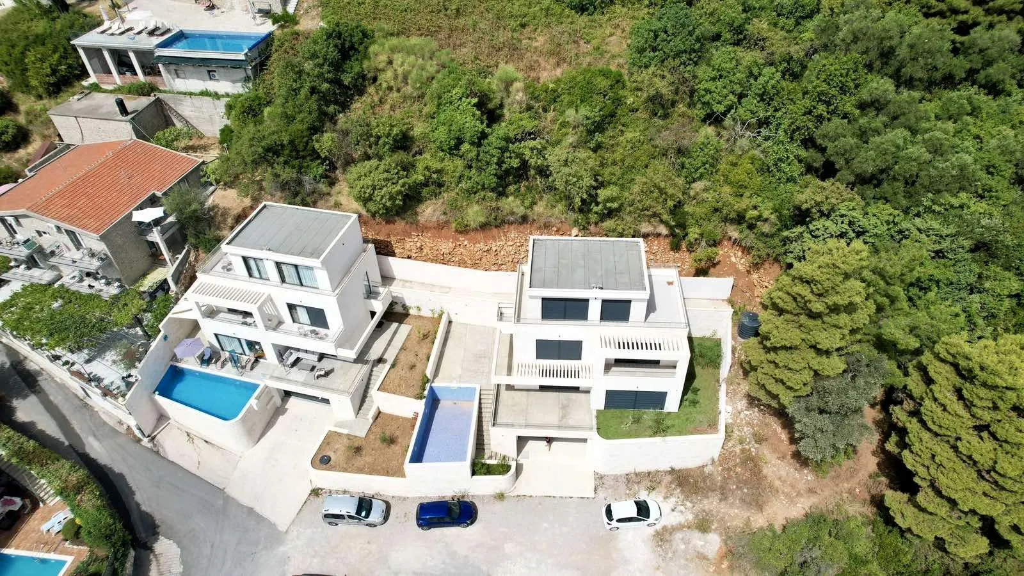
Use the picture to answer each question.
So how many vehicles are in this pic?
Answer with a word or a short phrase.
3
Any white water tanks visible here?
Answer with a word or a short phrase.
No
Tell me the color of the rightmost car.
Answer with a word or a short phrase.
white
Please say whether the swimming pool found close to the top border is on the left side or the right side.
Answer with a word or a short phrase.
left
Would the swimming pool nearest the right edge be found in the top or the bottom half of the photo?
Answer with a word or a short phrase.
bottom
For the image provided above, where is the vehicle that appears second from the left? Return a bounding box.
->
[417,497,476,533]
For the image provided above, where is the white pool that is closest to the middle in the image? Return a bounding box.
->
[404,383,479,494]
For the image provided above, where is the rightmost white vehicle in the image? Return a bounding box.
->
[601,495,663,532]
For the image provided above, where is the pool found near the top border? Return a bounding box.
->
[158,25,274,70]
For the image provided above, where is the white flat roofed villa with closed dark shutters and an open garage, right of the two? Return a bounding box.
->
[491,236,692,461]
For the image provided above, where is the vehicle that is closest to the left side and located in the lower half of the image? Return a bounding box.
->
[321,493,389,529]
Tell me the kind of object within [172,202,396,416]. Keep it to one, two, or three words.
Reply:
house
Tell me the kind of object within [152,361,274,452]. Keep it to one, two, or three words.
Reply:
swimming pool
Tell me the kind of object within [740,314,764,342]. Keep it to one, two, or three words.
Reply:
water tank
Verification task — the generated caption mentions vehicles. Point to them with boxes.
[417,497,476,533]
[601,495,663,532]
[321,493,389,529]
